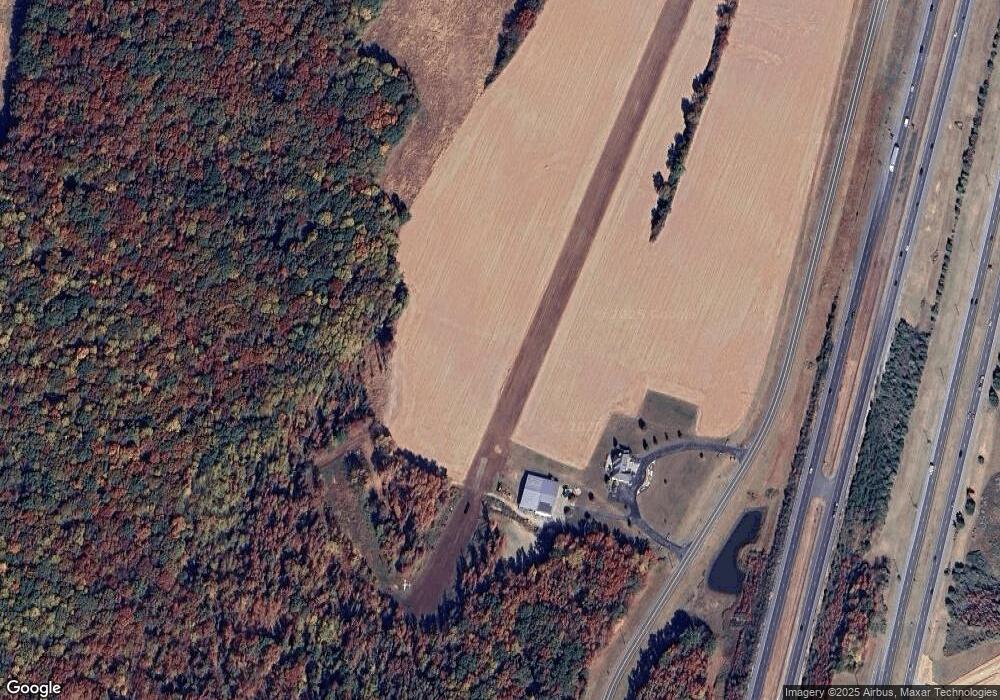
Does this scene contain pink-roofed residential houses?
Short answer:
No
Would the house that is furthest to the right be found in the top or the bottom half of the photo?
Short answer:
bottom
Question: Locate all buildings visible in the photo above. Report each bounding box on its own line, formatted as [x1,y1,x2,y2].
[520,474,558,517]
[607,449,643,487]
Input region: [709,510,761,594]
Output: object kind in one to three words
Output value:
pond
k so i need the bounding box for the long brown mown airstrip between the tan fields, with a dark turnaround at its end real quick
[398,0,692,616]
